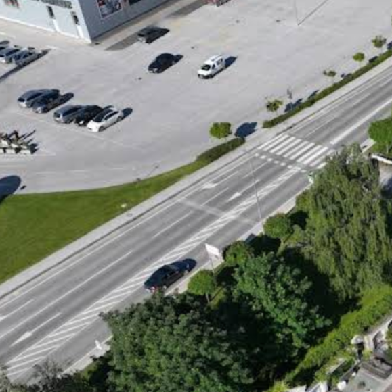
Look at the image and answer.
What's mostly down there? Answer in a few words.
paved ground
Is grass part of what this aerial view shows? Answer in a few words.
Yes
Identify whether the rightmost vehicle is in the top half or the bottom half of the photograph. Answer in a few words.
top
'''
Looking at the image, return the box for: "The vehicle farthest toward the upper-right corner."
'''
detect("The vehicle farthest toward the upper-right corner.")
[198,52,229,77]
